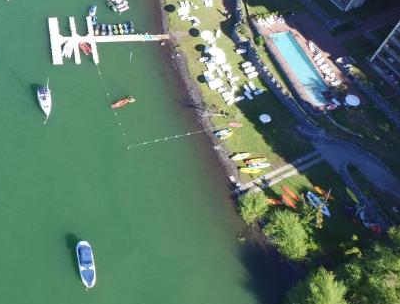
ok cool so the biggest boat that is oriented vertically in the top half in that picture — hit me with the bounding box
[38,78,52,121]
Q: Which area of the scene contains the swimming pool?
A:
top right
